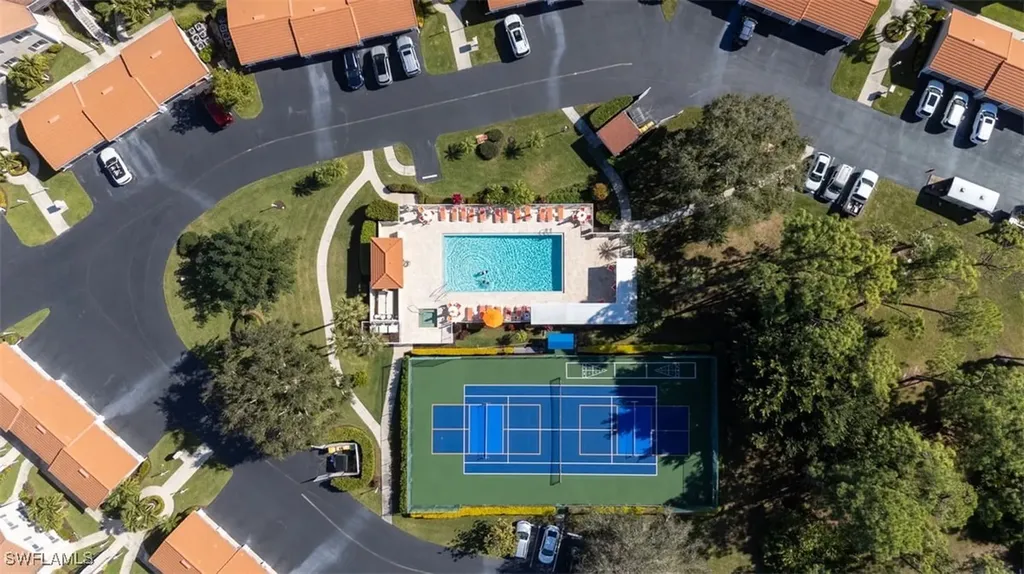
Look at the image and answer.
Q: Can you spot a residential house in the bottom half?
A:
Yes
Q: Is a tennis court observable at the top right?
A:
No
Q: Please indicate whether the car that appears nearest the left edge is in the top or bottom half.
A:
top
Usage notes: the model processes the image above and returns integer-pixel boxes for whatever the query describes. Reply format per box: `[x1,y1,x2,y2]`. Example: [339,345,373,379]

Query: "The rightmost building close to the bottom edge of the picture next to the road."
[151,508,287,574]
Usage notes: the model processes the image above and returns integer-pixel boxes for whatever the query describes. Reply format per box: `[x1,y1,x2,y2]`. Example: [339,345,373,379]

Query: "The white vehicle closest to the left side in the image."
[103,147,133,186]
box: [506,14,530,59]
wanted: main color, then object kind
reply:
white car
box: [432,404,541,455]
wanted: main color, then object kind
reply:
blue sports court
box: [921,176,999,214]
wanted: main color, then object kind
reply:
white trailer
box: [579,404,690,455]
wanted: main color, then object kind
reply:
blue sports court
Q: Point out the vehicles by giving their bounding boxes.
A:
[372,46,393,87]
[803,153,829,193]
[398,36,421,78]
[914,80,943,120]
[103,147,133,186]
[344,49,364,90]
[843,168,879,219]
[539,522,560,563]
[199,92,234,127]
[969,103,997,145]
[822,163,854,203]
[940,91,968,131]
[513,517,532,561]
[506,14,530,59]
[734,13,758,49]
